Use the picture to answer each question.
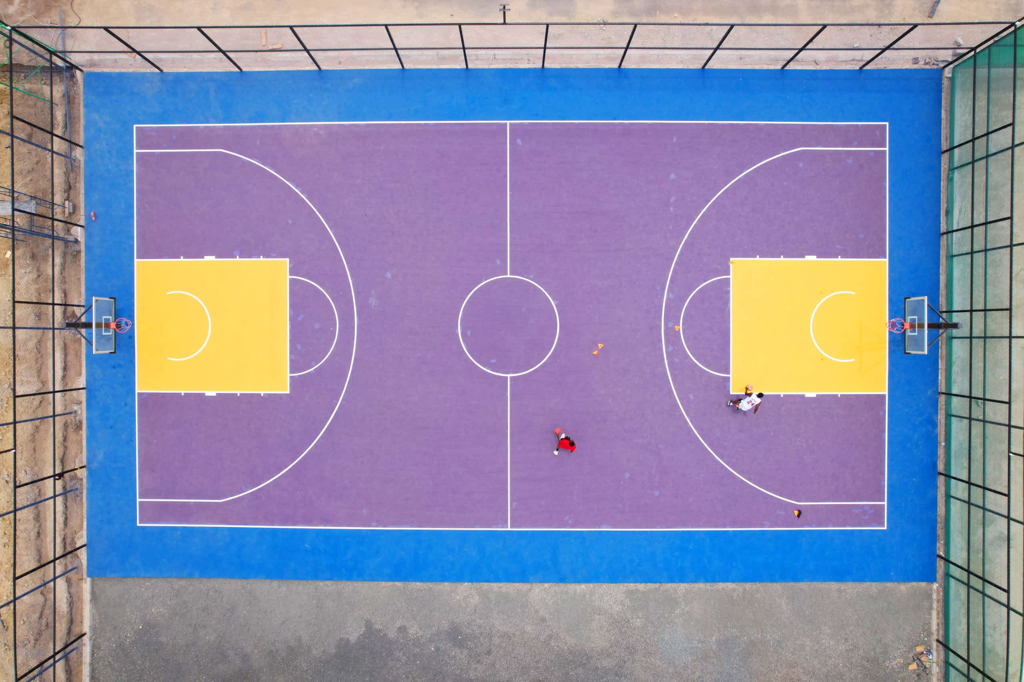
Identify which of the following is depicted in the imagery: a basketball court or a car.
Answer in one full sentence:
Of the two, only a basketball court appears.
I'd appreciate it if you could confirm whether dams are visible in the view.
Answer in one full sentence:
No, there is no dam in the image.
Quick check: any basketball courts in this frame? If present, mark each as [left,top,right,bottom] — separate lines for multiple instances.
[83,67,943,583]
